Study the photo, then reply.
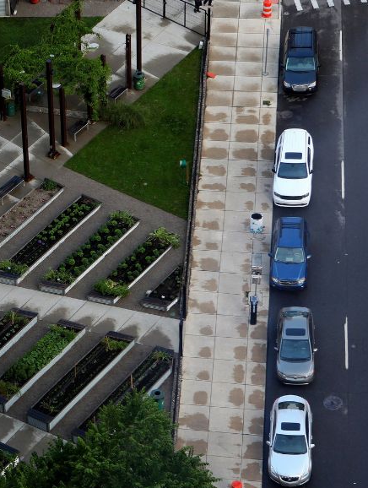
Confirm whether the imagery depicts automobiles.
Yes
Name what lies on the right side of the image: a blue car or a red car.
blue car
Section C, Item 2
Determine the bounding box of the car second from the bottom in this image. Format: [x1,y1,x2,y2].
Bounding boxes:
[274,306,320,382]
